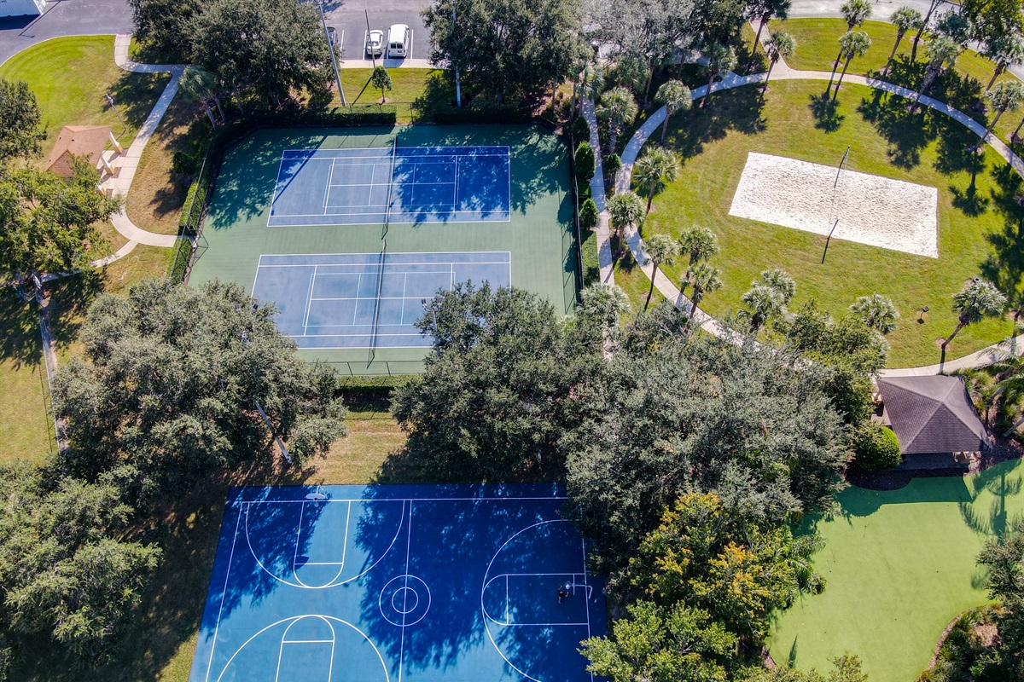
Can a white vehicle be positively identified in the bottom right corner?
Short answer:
No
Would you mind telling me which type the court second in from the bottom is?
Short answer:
tennis court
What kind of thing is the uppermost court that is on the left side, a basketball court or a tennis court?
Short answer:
tennis court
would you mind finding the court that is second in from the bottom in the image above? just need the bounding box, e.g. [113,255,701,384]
[241,251,512,350]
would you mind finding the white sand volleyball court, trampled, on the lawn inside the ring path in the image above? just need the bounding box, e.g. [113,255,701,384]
[728,150,940,259]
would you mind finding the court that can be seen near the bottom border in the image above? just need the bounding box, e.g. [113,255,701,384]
[189,481,608,682]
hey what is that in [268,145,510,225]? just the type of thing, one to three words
tennis court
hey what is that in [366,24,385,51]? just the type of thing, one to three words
car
